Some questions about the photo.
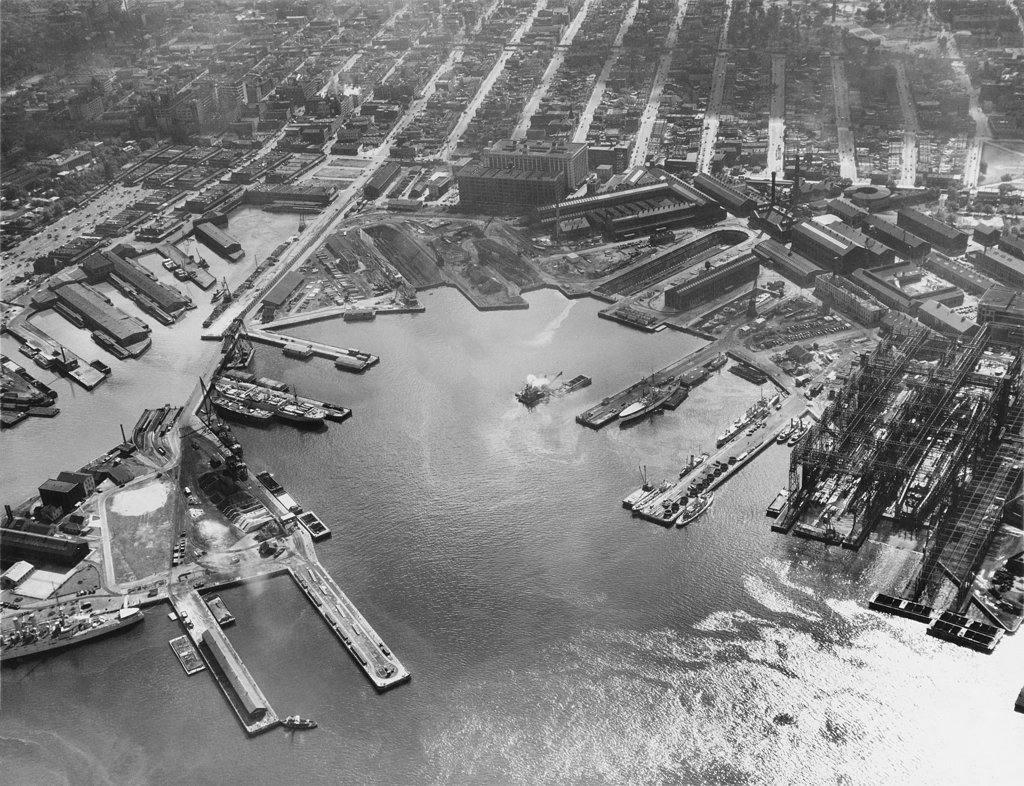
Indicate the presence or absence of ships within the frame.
Yes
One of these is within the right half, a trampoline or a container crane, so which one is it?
container crane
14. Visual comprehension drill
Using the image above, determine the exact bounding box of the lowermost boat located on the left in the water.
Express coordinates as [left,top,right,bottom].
[280,713,318,731]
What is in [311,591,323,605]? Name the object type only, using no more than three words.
rail car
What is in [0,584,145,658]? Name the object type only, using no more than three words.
vessel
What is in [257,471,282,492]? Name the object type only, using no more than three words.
ship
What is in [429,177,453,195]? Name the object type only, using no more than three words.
building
